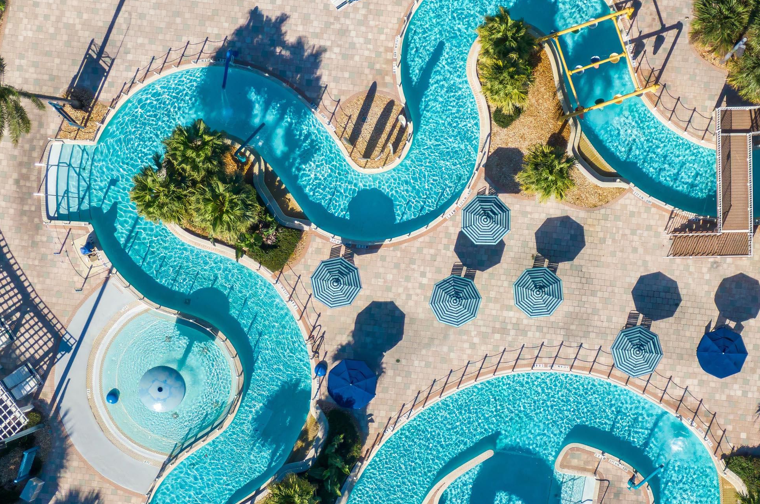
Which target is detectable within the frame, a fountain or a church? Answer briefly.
fountain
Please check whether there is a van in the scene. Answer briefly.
No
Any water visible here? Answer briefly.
Yes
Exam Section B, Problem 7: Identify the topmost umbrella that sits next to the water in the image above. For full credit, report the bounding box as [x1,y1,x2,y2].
[458,193,512,246]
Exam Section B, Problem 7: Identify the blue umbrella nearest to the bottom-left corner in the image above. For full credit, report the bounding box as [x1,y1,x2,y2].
[326,358,378,409]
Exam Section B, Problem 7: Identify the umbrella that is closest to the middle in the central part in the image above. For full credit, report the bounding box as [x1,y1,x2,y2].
[308,255,361,308]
